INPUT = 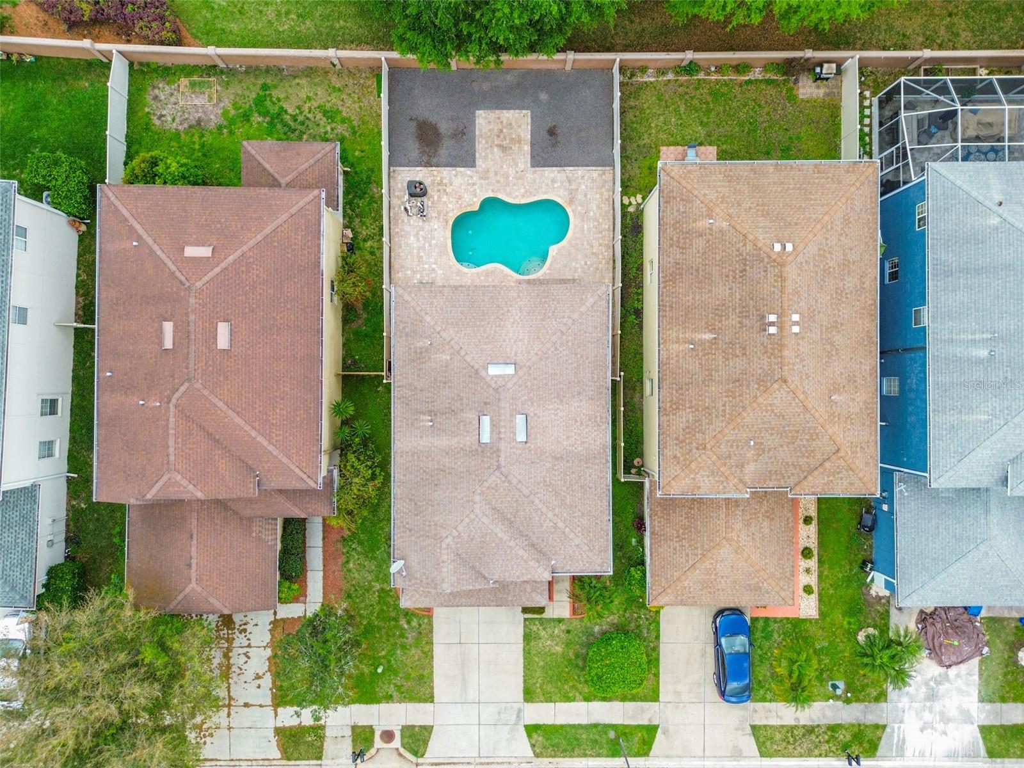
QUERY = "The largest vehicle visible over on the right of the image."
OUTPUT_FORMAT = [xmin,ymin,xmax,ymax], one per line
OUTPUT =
[711,607,756,702]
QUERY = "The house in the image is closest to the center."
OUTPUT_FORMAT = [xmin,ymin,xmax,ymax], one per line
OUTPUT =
[391,283,612,608]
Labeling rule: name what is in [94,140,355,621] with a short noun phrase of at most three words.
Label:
house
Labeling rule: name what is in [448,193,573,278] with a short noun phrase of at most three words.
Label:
swimming pool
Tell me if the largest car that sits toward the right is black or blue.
blue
